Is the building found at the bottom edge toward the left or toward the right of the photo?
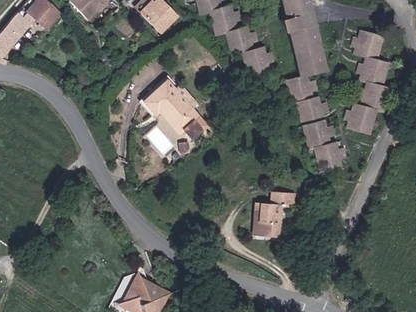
left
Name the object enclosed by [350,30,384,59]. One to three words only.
house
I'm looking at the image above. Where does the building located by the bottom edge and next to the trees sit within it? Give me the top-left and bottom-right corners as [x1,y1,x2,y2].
[109,269,172,312]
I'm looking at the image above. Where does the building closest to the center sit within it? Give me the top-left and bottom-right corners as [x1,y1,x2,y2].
[144,79,211,164]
